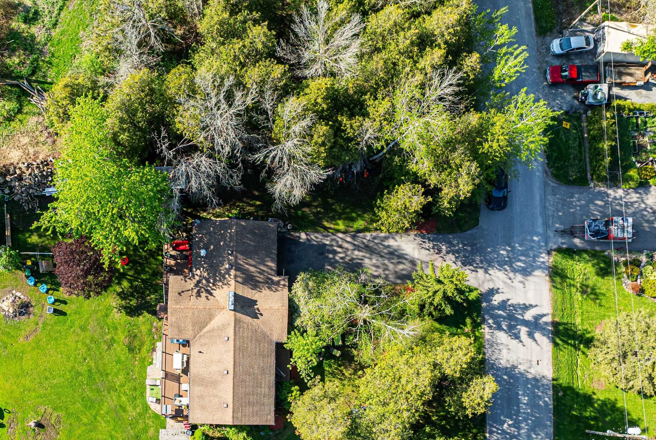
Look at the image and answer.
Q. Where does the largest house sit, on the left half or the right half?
left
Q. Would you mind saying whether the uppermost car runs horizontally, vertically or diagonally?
horizontally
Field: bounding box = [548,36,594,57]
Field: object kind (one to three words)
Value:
car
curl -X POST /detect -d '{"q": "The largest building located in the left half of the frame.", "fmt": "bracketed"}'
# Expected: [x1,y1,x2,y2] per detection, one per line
[167,217,290,426]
